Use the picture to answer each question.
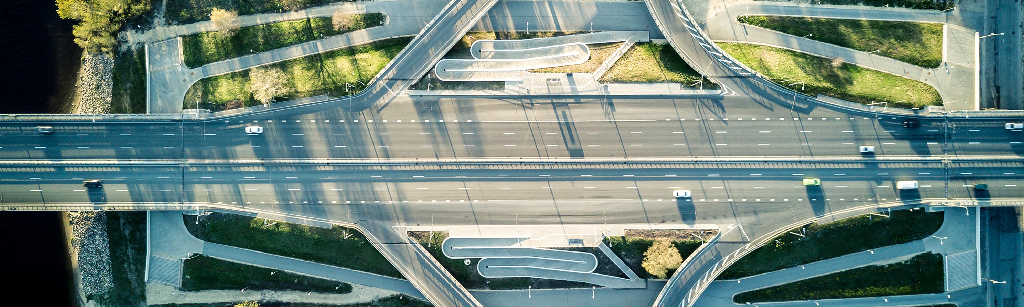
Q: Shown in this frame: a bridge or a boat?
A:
bridge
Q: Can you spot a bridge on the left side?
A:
Yes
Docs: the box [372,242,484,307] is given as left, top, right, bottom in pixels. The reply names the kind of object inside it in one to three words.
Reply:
bridge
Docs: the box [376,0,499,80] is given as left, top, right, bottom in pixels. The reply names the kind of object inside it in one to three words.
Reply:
bridge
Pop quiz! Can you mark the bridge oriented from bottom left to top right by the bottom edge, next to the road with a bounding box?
[651,243,762,307]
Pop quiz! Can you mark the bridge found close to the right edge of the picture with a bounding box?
[940,111,1024,207]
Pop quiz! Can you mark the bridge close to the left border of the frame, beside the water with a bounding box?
[0,113,188,211]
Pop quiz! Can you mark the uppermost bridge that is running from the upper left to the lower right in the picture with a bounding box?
[644,0,757,78]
